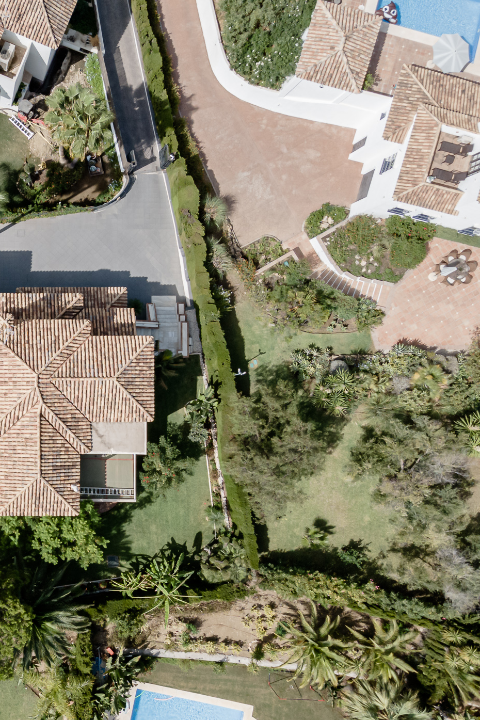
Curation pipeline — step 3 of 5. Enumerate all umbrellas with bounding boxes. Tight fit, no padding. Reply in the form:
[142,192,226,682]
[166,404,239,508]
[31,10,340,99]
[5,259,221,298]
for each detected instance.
[427,267,460,282]
[421,39,463,74]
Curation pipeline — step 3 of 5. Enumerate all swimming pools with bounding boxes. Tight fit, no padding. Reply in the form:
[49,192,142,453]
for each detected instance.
[112,681,258,720]
[367,0,480,74]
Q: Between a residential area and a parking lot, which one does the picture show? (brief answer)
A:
residential area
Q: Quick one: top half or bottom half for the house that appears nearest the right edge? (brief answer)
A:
top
